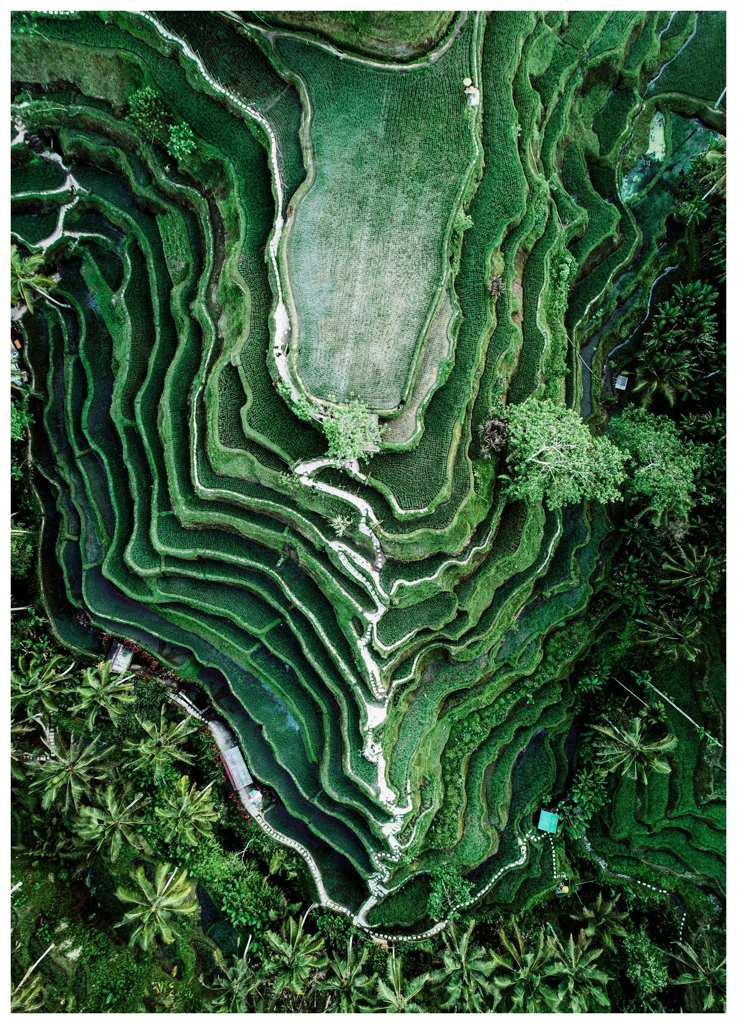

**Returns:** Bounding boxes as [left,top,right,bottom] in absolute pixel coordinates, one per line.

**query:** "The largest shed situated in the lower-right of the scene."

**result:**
[535,808,559,834]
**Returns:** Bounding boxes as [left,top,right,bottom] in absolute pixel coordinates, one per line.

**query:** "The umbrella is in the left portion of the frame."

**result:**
[248,789,262,804]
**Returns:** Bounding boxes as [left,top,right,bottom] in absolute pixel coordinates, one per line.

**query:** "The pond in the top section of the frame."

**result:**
[622,112,665,201]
